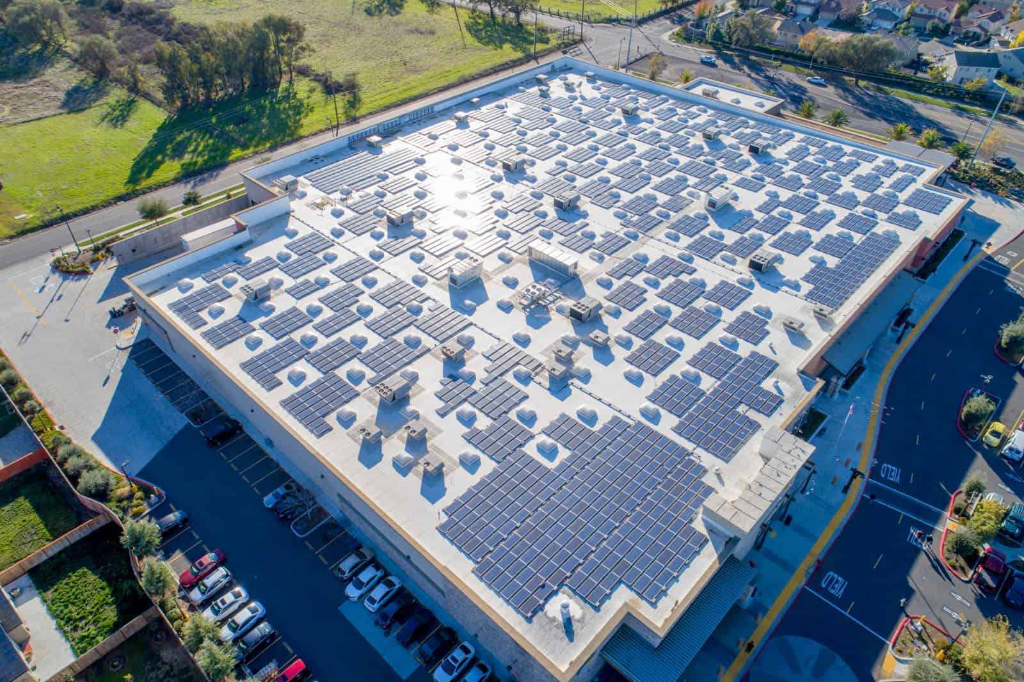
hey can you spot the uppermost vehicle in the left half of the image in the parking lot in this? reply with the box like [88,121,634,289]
[203,417,242,447]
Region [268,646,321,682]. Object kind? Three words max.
vehicle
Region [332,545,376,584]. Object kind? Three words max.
car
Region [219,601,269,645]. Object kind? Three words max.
car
